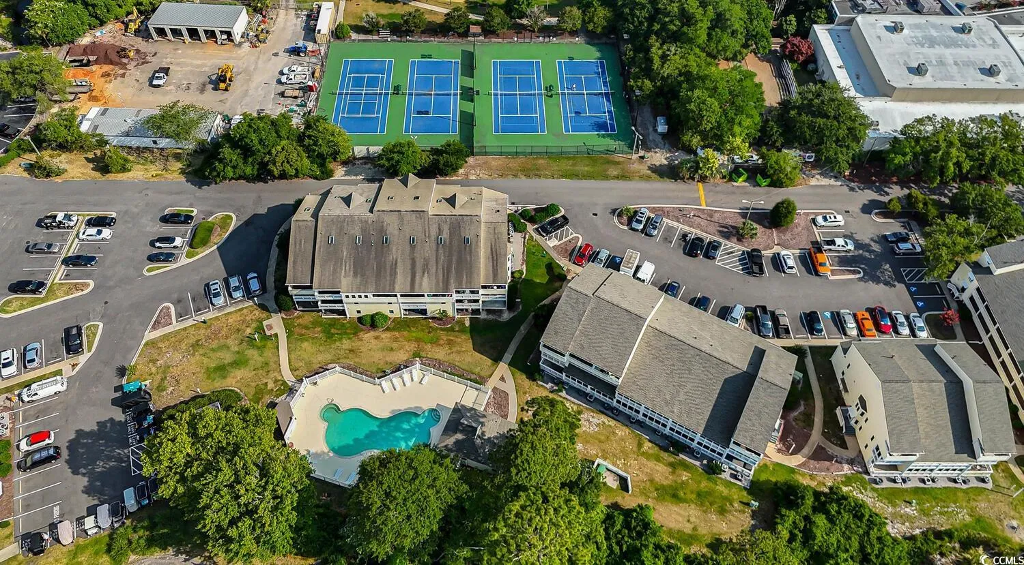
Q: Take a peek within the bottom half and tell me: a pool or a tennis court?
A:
pool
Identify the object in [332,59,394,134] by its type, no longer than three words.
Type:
tennis court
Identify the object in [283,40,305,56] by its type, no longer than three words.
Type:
work vehicle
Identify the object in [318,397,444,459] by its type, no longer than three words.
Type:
swimming pool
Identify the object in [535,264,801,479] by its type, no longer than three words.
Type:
building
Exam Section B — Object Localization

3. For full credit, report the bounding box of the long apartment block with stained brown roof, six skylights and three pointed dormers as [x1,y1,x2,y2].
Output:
[286,173,512,323]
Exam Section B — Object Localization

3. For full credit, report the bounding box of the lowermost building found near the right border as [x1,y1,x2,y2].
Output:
[830,340,1015,477]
